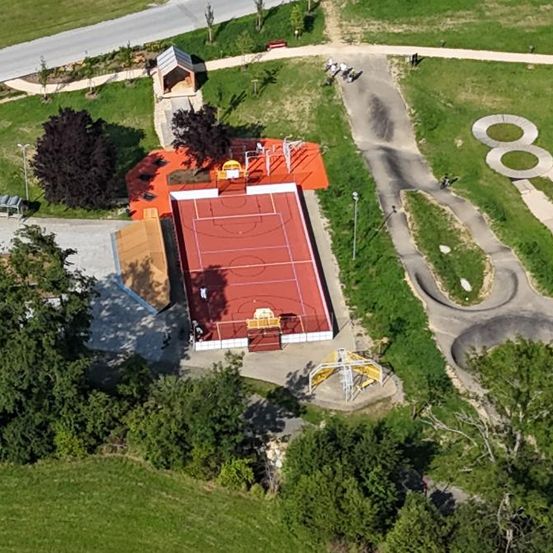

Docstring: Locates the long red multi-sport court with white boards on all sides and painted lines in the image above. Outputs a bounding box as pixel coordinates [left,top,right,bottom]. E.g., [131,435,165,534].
[172,167,334,355]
